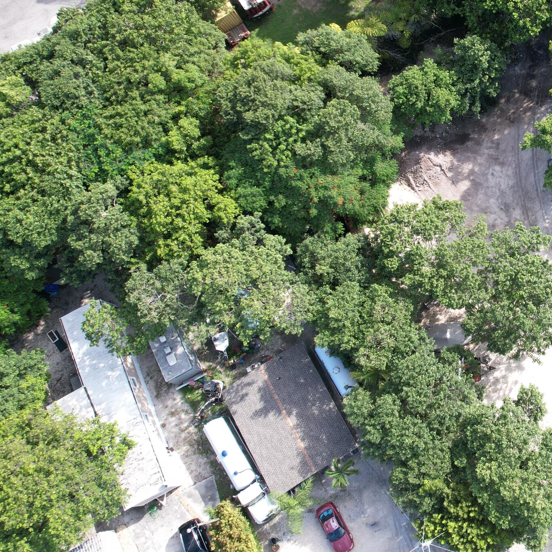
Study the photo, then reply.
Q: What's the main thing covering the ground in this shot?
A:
trees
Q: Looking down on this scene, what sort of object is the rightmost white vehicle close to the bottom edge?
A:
truck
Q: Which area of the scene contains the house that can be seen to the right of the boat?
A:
bottom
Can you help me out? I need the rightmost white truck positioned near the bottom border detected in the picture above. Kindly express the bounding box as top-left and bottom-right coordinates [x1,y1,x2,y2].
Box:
[199,414,284,527]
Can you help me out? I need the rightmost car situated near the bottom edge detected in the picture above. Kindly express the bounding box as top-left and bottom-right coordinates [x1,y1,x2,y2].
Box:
[317,500,357,552]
